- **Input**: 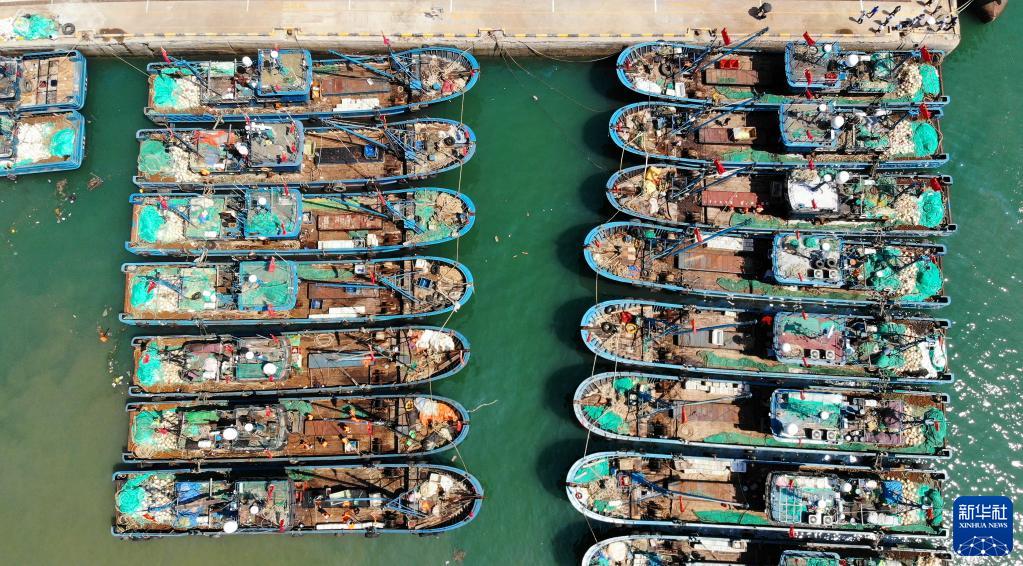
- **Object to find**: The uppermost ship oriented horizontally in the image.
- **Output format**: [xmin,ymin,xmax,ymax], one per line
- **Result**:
[958,0,1011,24]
